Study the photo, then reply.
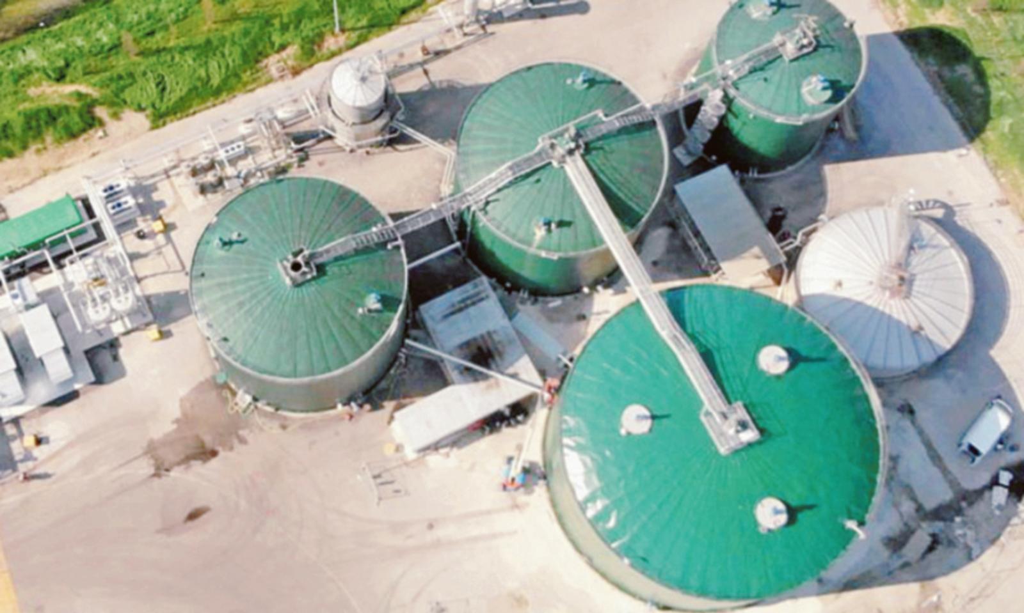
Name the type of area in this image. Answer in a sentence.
The area seen from above is an industrial area.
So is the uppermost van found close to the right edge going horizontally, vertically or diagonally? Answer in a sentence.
I'd say the uppermost van found close to the right edge is aligned diagonally in the picture.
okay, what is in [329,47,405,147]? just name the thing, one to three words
storage tank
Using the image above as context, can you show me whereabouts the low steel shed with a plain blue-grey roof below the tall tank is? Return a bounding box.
[671,164,786,284]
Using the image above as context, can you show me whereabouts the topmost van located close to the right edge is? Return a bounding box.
[954,397,1014,466]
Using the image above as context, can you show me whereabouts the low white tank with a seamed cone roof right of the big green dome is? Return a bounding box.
[785,194,976,382]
